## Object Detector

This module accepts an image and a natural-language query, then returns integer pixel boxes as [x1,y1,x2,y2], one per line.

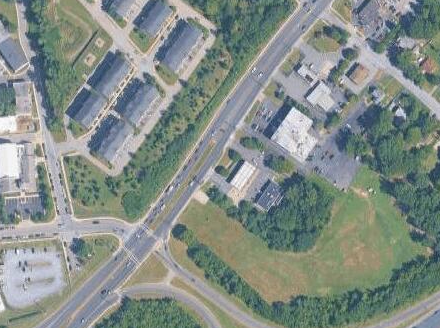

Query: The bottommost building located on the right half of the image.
[255,183,283,212]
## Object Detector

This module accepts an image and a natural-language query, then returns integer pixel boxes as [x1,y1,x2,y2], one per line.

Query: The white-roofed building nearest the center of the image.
[230,161,257,191]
